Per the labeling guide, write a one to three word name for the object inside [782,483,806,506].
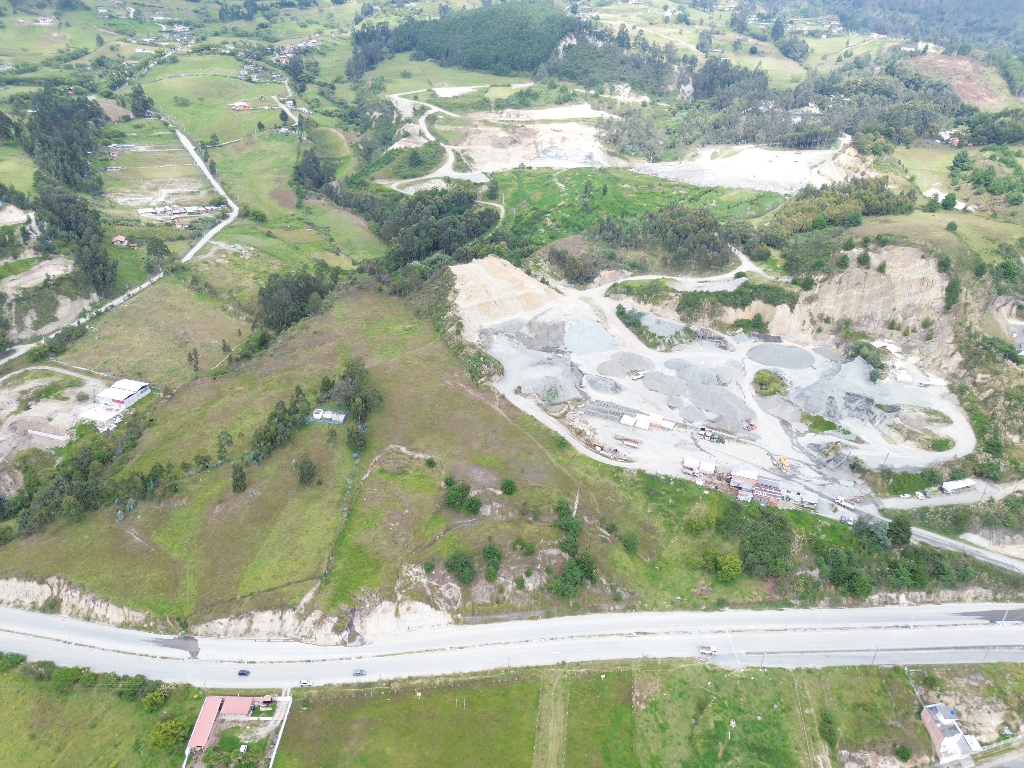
building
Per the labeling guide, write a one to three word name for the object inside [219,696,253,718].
house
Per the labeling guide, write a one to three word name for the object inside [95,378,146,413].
building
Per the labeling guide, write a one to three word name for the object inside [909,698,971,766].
house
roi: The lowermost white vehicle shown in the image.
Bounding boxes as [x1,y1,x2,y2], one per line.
[236,742,250,758]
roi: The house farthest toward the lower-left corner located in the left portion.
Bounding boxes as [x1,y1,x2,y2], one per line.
[187,695,223,753]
